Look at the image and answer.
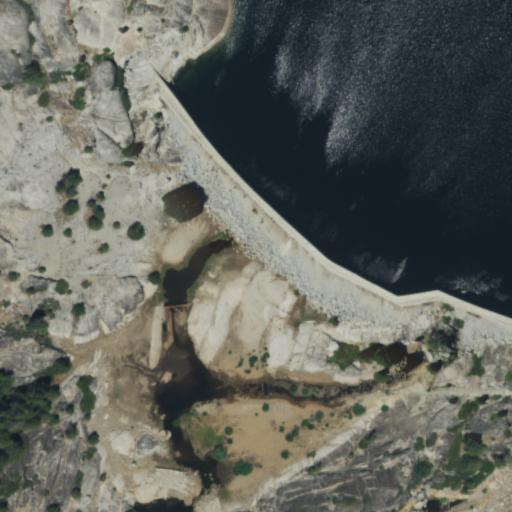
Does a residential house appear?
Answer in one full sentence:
No, the picture doesn't show any residential house.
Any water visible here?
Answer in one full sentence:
Yes, some water is visible.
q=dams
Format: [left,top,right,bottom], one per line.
[150,67,512,352]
